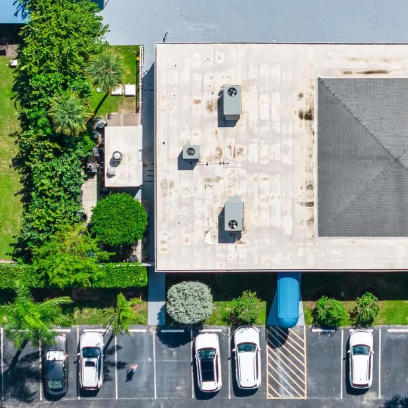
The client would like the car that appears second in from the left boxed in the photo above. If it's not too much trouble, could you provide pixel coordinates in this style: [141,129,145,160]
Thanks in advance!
[76,329,105,391]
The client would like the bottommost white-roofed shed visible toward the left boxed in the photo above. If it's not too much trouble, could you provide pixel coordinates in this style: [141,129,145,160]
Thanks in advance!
[104,125,149,187]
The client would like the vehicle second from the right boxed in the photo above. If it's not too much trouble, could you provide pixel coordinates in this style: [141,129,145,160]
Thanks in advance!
[233,326,261,389]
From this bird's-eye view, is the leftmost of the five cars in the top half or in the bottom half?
bottom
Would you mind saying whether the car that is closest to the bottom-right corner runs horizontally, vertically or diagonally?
vertically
